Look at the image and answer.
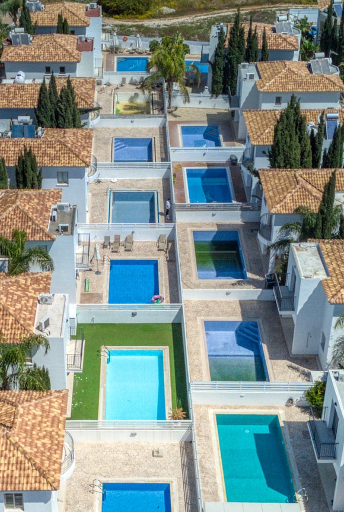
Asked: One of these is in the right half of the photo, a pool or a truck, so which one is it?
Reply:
pool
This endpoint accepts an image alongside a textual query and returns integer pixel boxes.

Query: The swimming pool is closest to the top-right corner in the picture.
[171,59,208,84]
